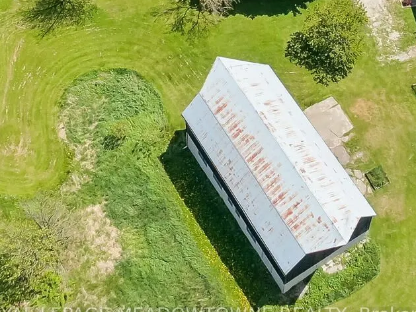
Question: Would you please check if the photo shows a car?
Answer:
No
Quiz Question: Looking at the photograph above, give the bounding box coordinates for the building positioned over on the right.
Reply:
[180,57,378,290]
